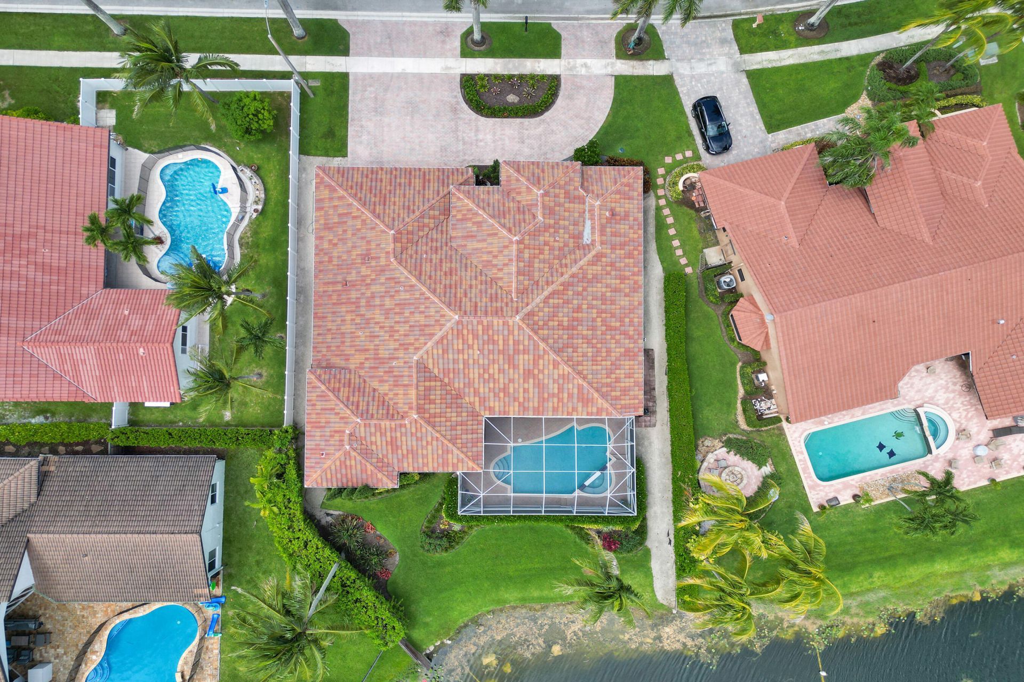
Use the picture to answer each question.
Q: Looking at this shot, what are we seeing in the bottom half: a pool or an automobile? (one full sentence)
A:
It is a pool that can be seen in the bottom half.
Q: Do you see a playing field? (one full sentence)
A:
No, there's no playing field here.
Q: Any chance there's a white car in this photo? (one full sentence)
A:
No, the scene contains no white car.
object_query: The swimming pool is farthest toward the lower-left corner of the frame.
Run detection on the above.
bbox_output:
[9,584,222,682]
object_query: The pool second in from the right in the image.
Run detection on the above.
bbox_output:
[462,416,629,505]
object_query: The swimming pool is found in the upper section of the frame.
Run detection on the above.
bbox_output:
[118,142,252,376]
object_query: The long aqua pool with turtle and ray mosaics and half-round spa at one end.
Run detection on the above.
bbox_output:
[781,356,1024,514]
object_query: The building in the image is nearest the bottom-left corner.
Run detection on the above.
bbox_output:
[0,452,225,682]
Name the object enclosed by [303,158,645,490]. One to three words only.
house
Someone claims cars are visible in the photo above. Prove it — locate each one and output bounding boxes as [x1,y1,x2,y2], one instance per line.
[691,90,732,158]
